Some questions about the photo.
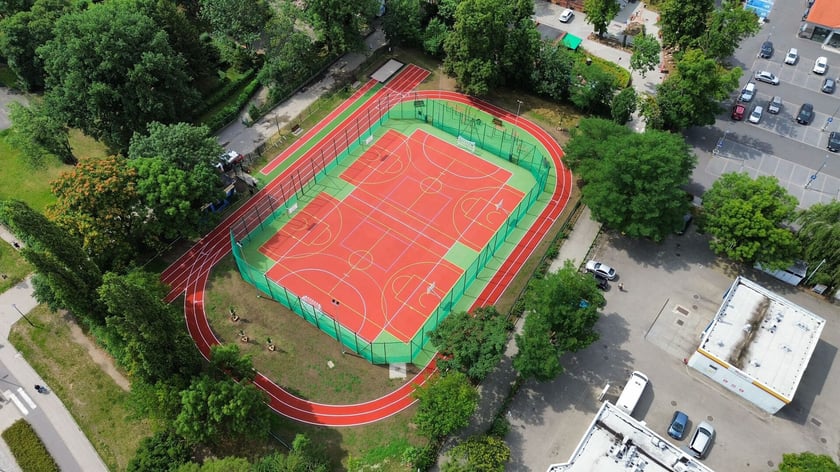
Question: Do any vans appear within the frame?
Yes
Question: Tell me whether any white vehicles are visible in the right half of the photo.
Yes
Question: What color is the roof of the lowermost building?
white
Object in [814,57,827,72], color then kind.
white vehicle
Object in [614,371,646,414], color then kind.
white van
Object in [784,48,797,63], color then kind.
white vehicle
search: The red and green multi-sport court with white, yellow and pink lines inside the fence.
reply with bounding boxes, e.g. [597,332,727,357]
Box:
[235,101,555,384]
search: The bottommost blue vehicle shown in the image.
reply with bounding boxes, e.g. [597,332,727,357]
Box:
[667,409,690,441]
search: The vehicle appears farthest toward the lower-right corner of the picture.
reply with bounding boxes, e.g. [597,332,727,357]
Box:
[691,421,714,463]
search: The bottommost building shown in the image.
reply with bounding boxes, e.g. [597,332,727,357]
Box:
[554,399,717,472]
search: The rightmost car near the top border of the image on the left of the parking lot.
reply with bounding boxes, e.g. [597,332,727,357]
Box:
[560,7,573,21]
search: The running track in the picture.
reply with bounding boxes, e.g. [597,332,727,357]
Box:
[155,63,570,422]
